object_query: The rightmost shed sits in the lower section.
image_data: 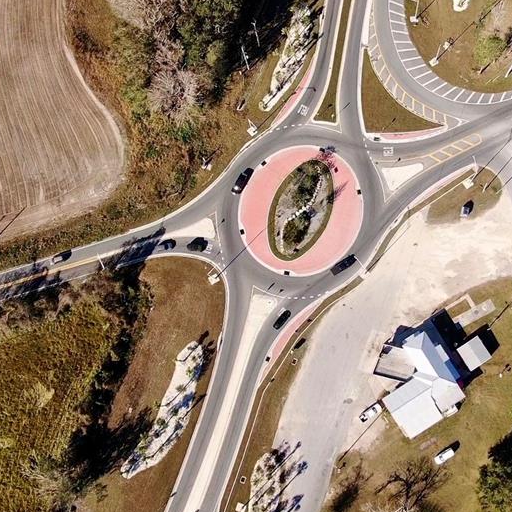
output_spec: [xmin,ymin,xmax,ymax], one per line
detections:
[456,336,491,370]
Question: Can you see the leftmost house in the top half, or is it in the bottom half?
bottom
